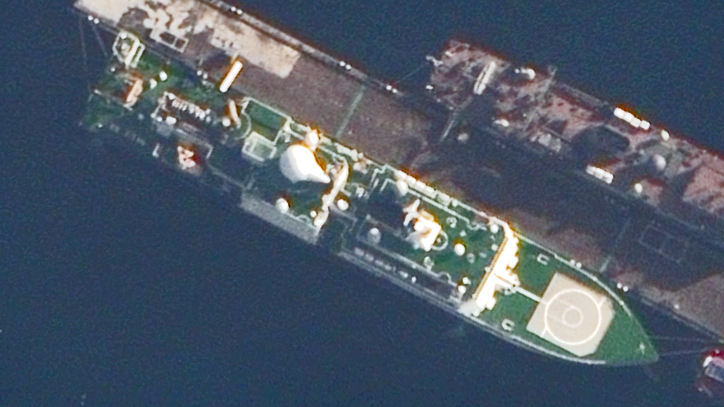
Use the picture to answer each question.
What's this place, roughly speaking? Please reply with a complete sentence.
This image shows a port.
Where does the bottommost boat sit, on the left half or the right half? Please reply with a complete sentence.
The bottommost boat sits on the right side.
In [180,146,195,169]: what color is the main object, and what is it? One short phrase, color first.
white boat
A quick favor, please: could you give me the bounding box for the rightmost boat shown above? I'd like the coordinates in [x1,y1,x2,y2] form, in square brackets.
[698,346,724,397]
